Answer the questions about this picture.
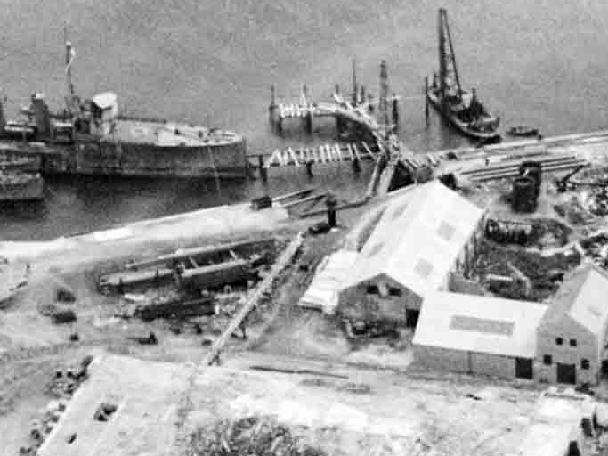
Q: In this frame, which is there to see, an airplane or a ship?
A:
ship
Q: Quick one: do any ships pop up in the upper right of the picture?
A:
Yes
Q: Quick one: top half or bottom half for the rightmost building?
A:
bottom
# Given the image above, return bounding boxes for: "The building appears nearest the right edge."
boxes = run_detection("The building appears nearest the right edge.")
[533,262,608,376]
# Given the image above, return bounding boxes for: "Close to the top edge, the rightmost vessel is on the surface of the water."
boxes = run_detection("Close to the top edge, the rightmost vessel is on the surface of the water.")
[421,6,503,146]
